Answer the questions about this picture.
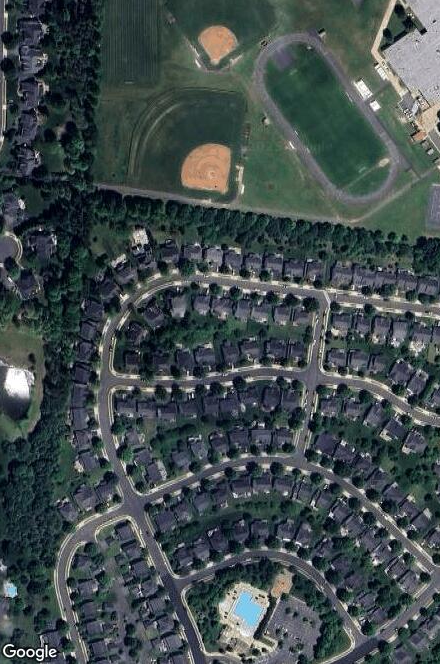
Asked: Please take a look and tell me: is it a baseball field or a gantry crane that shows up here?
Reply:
baseball field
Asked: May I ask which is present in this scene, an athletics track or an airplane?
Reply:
athletics track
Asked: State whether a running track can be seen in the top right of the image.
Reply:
Yes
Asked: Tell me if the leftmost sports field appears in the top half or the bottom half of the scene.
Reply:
top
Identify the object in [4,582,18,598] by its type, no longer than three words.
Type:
swimming pool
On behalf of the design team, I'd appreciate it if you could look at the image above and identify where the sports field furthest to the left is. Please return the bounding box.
[104,0,160,87]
